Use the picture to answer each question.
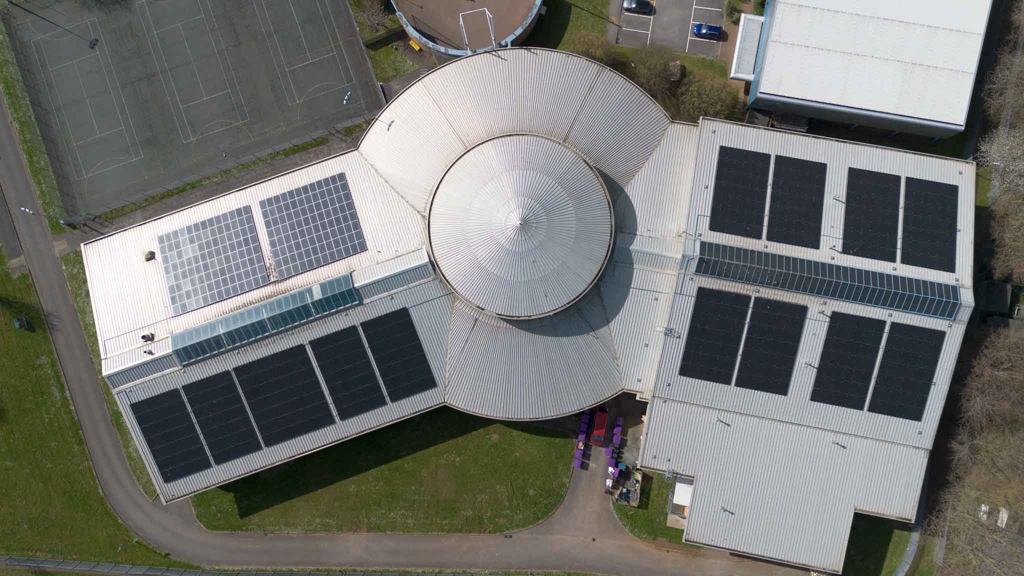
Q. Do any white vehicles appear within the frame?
No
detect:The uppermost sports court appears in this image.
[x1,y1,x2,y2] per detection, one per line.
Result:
[393,0,536,49]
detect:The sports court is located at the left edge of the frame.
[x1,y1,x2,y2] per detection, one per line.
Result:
[10,0,368,206]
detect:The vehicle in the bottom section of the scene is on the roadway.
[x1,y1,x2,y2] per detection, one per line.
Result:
[592,408,609,443]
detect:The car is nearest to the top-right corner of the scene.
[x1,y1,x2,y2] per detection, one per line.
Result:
[694,24,722,40]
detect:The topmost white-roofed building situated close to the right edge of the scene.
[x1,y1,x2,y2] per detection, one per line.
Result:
[725,0,989,145]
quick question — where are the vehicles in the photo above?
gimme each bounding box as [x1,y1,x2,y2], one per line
[592,408,609,443]
[694,24,722,40]
[624,0,654,13]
